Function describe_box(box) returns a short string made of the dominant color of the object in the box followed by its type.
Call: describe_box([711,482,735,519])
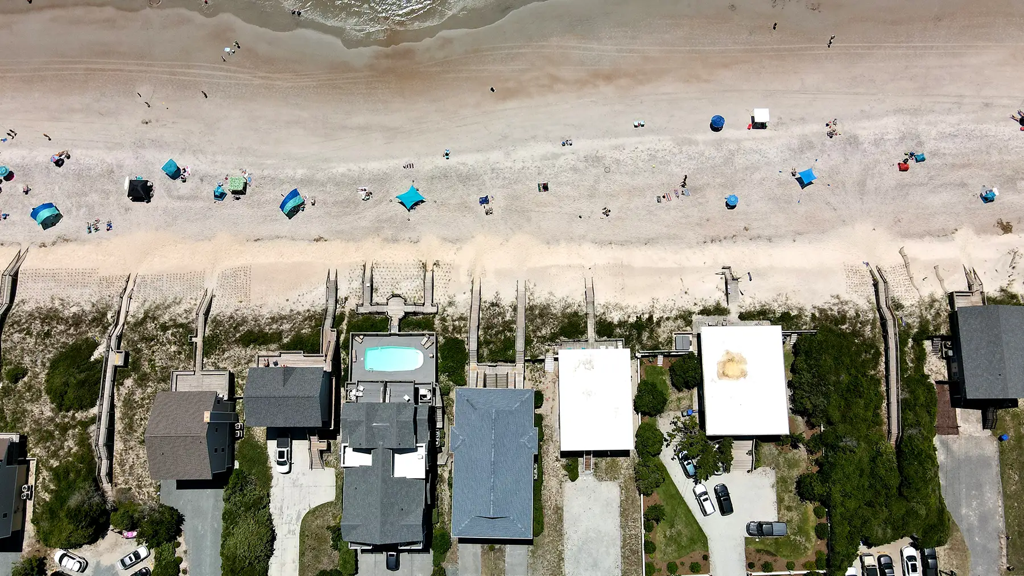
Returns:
black car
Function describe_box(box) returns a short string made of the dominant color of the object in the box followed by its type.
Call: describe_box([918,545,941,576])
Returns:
black truck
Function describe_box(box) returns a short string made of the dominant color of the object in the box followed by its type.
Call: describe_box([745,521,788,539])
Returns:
gray vehicle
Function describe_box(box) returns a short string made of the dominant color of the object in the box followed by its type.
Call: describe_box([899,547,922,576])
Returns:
white car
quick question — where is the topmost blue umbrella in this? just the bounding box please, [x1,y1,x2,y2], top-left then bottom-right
[711,115,724,128]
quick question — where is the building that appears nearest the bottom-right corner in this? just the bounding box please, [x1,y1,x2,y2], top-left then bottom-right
[944,305,1024,398]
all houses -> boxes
[558,348,634,452]
[340,379,434,550]
[448,388,540,539]
[244,367,332,427]
[944,305,1024,398]
[145,391,239,479]
[693,326,790,436]
[0,438,30,539]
